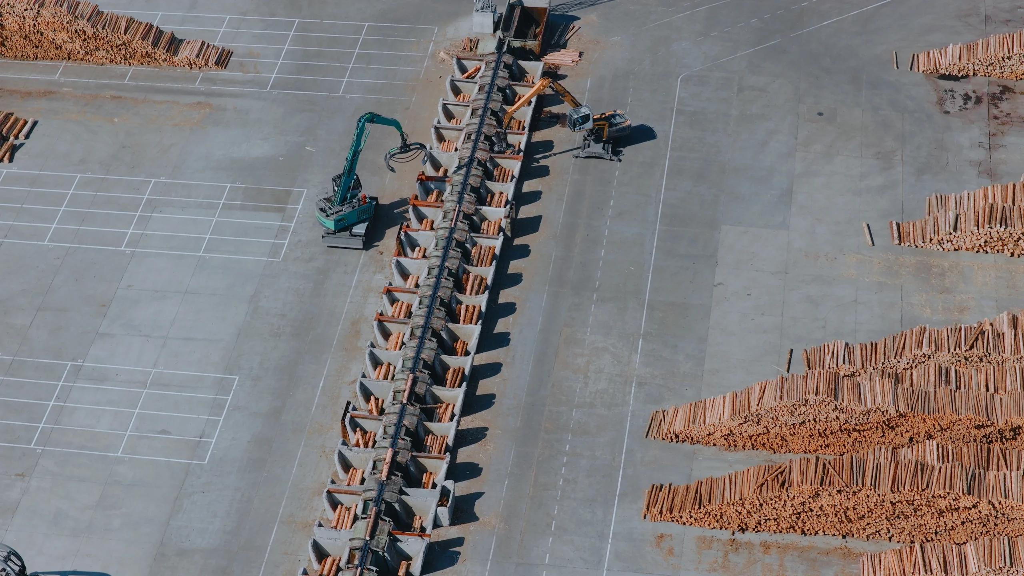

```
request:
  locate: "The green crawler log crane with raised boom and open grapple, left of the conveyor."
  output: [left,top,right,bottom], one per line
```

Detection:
[318,108,430,250]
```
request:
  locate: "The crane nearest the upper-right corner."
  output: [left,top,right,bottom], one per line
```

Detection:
[493,72,634,160]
